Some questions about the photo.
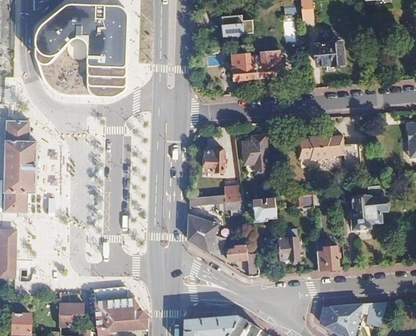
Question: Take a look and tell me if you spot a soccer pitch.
No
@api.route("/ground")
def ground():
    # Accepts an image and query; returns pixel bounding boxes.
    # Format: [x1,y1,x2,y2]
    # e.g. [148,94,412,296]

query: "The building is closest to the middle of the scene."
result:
[202,148,227,178]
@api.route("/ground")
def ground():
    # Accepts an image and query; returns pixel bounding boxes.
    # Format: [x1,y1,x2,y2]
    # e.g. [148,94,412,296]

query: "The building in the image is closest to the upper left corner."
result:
[34,5,126,95]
